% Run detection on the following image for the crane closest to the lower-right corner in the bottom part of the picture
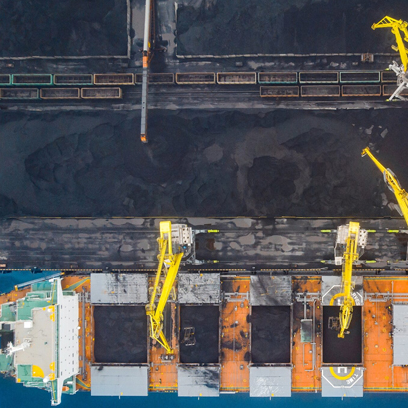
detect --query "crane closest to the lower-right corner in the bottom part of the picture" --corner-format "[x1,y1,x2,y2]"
[320,221,377,337]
